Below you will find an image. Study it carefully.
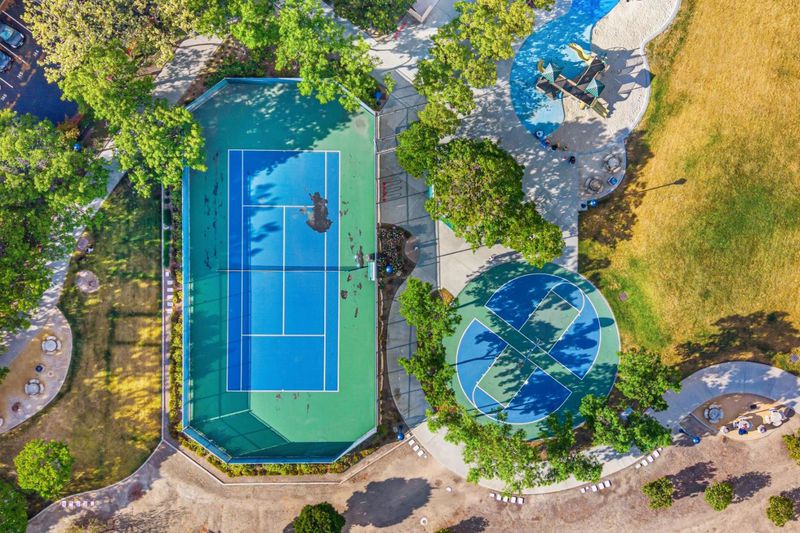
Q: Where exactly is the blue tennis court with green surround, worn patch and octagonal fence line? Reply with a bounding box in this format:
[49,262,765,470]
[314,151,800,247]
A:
[189,83,376,457]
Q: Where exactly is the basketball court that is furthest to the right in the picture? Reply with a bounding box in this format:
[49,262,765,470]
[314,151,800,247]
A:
[443,259,622,442]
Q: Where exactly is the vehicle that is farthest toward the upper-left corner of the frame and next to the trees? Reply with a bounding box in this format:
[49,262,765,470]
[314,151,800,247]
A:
[0,14,24,46]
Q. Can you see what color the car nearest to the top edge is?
blue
